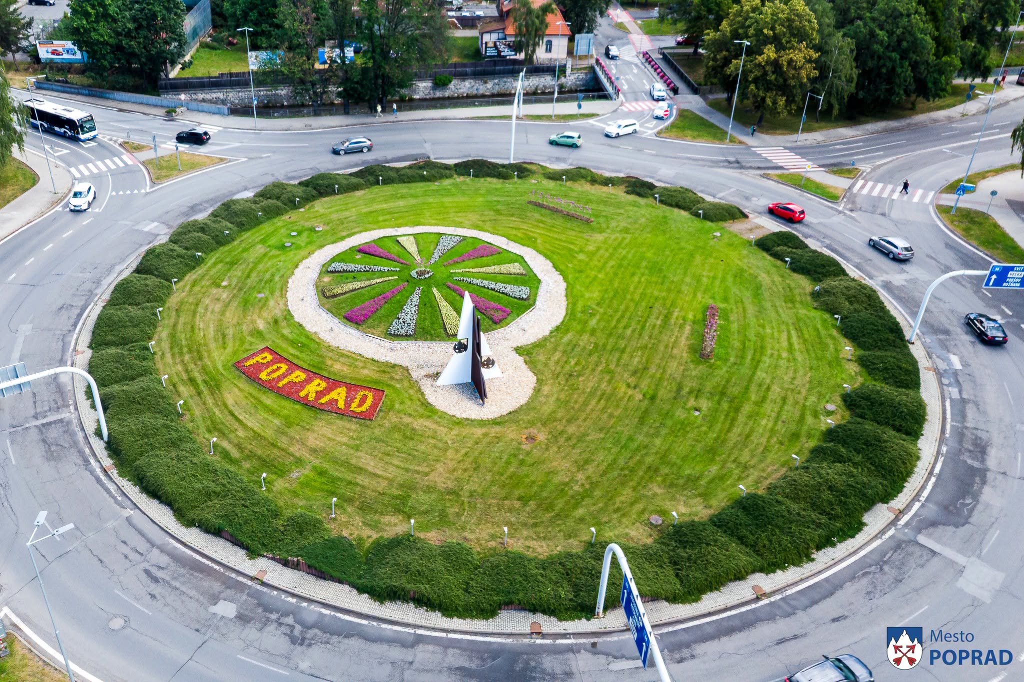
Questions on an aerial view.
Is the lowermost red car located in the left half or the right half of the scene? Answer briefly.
right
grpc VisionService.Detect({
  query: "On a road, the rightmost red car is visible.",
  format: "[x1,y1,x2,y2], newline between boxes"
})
[768,201,809,222]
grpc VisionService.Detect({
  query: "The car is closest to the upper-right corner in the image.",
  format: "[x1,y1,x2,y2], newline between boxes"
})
[870,235,916,260]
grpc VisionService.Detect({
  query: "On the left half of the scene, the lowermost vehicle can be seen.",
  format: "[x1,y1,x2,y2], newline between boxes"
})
[66,180,95,208]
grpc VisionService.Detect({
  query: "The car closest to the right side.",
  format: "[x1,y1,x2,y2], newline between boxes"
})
[961,312,1015,344]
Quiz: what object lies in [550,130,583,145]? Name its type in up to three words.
car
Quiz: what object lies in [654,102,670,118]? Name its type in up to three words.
car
